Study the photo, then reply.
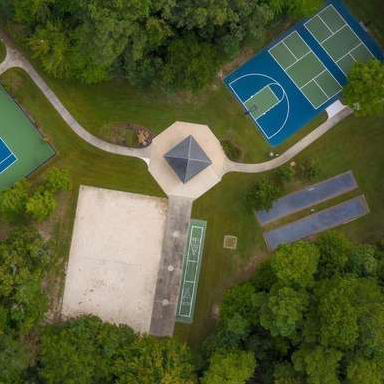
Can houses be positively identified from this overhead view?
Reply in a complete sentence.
No, there isn't any house down there.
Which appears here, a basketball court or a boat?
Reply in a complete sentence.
Of the two, only a basketball court appears.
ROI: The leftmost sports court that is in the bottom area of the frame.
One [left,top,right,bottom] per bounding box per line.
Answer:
[61,184,168,337]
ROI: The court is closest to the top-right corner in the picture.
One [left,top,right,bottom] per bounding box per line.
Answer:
[304,5,378,76]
